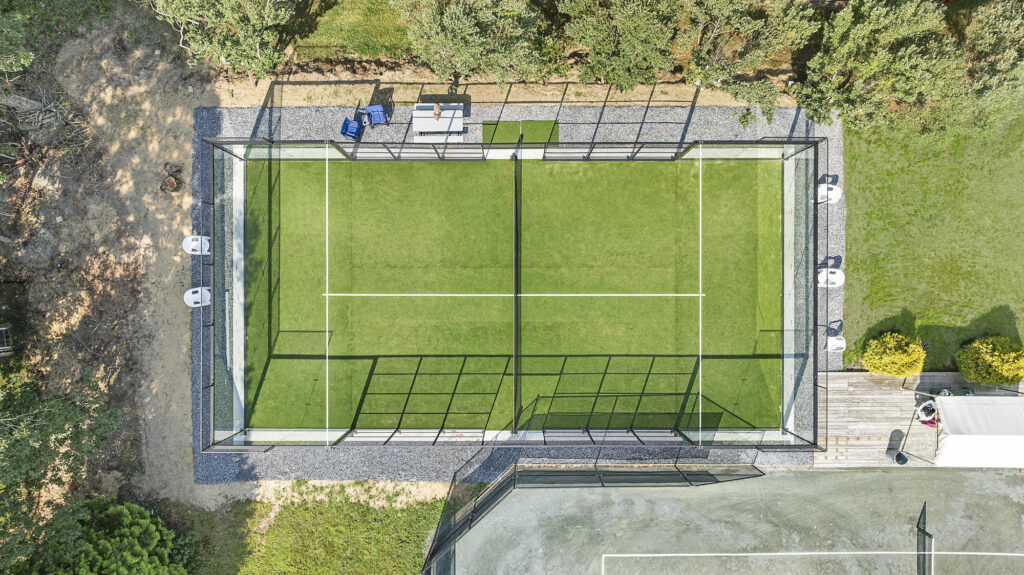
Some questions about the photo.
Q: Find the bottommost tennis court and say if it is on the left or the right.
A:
right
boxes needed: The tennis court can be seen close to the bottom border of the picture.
[430,467,1024,575]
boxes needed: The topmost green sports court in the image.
[234,147,794,441]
